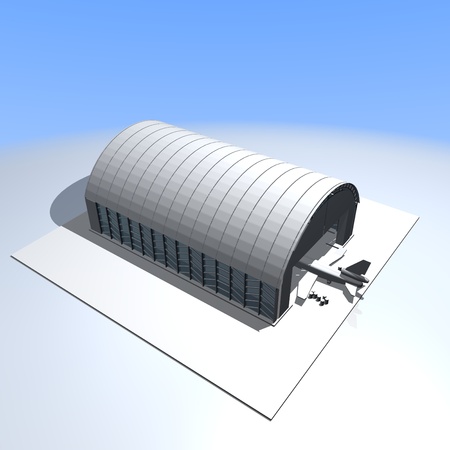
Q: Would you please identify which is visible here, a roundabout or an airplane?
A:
airplane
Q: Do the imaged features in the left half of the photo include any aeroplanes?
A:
No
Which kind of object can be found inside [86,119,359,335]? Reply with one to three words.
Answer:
hangar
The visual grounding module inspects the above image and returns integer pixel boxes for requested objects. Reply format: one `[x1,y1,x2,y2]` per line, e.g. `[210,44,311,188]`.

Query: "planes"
[300,247,371,304]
